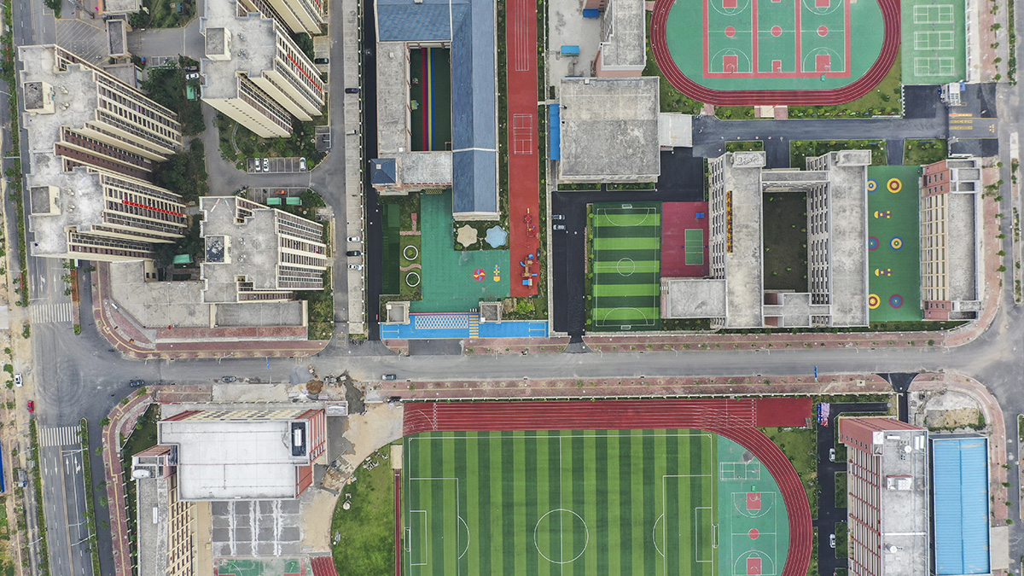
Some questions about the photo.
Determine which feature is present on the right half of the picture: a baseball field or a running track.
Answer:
running track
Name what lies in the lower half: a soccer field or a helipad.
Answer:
soccer field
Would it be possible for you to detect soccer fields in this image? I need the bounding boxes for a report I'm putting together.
[404,430,718,576]
[592,202,662,331]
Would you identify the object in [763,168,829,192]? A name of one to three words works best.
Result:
building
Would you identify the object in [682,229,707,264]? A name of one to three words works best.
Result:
sports court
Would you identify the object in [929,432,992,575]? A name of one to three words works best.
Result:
shed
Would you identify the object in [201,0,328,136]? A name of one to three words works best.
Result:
building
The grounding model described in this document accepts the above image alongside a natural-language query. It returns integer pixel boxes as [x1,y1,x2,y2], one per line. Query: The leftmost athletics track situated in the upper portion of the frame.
[507,0,540,297]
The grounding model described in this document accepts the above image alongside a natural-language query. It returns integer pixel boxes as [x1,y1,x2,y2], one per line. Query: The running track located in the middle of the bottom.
[314,398,812,576]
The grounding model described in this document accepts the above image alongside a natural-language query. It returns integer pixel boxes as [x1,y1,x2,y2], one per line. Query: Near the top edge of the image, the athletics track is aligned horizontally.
[651,0,901,105]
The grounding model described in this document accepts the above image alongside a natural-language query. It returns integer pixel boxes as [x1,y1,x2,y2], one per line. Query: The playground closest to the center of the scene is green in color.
[411,188,509,313]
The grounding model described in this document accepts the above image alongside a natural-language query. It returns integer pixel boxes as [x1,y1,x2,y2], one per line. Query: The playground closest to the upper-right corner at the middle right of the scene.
[868,166,922,322]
